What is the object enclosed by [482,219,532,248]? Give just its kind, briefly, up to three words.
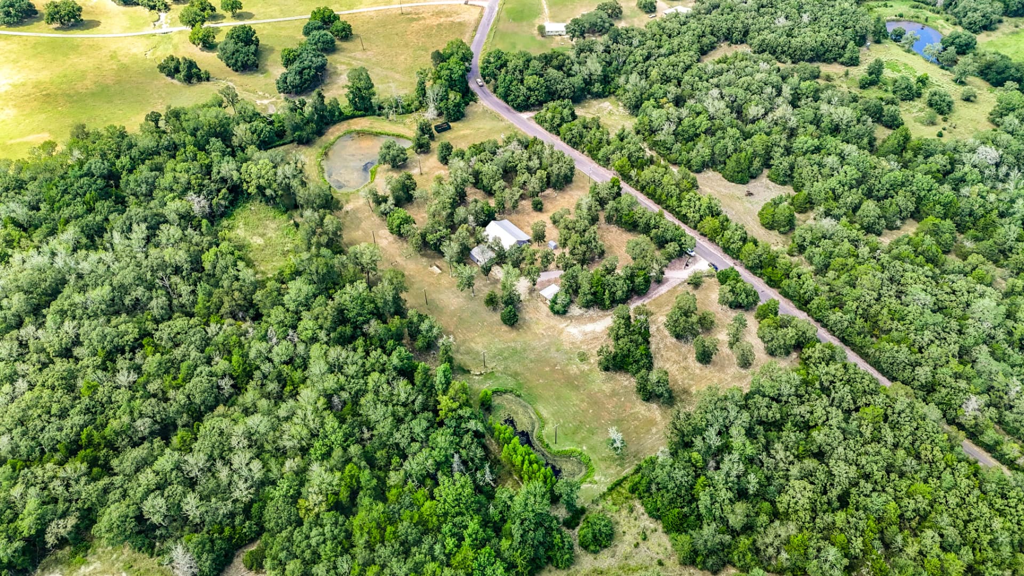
house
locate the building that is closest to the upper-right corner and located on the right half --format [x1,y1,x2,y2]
[657,5,694,19]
